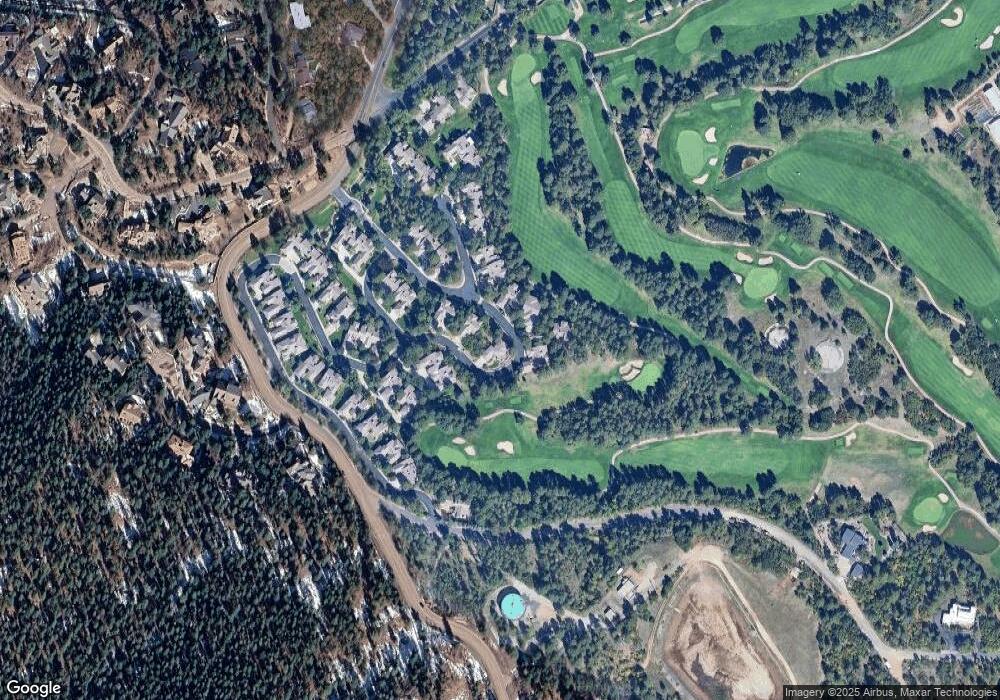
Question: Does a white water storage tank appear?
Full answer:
No, the frame has no white water storage tank in it.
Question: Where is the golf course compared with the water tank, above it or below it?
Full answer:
The golf course is found above the water tank in the photo.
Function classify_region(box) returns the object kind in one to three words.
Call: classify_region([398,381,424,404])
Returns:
house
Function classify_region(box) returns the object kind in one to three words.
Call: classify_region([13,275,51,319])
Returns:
house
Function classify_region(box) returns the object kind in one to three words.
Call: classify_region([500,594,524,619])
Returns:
water tank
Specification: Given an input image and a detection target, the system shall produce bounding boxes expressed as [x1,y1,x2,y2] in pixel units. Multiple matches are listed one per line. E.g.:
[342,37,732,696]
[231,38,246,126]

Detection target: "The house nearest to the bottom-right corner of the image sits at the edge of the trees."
[944,601,977,624]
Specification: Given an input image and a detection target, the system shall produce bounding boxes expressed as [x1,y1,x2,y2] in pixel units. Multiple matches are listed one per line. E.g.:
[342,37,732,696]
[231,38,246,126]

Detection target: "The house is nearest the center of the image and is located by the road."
[479,336,513,371]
